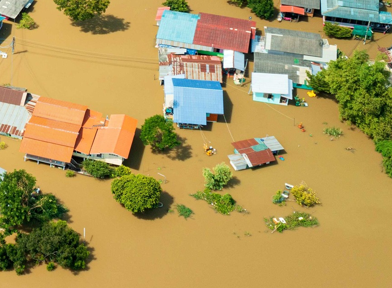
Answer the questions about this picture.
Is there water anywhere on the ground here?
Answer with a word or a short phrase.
Yes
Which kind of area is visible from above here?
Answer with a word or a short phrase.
residential area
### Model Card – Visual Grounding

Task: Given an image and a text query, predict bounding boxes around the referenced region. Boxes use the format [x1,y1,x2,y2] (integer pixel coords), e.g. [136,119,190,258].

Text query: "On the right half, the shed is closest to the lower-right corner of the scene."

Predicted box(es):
[228,137,284,170]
